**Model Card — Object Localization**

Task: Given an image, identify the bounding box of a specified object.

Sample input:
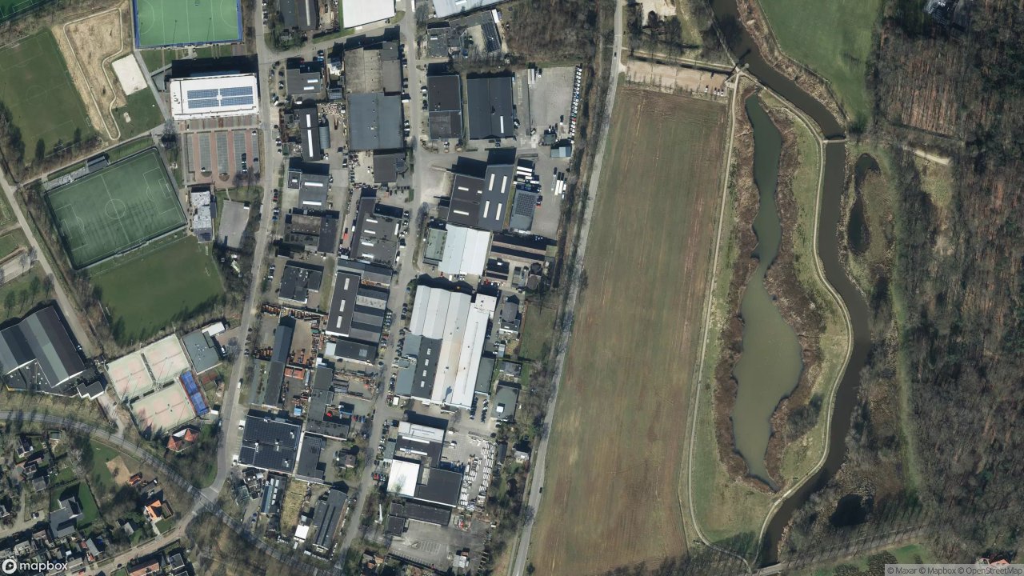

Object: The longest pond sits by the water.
[733,95,801,491]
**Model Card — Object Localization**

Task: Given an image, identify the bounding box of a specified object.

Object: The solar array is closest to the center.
[515,194,536,216]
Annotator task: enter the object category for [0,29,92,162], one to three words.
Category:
soccer field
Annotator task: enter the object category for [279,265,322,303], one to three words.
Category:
building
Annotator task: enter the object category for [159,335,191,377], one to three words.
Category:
tennis court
